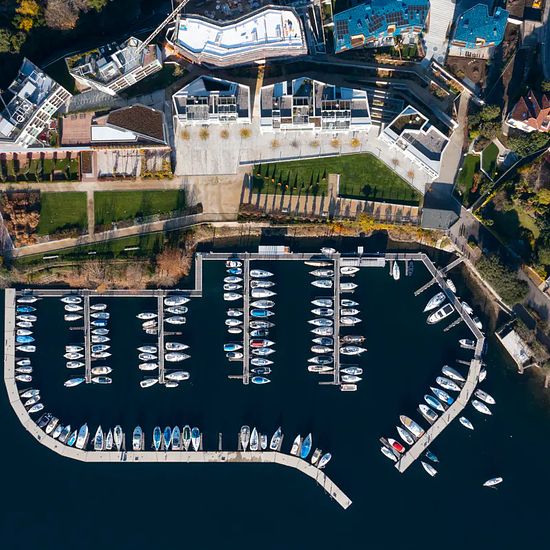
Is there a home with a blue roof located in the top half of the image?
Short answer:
Yes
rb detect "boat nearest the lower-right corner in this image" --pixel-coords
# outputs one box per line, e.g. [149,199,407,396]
[482,476,503,490]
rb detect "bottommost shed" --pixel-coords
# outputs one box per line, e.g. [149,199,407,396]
[509,306,534,333]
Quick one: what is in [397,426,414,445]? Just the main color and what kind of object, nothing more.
white boat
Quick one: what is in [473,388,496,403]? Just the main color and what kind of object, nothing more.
white boat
